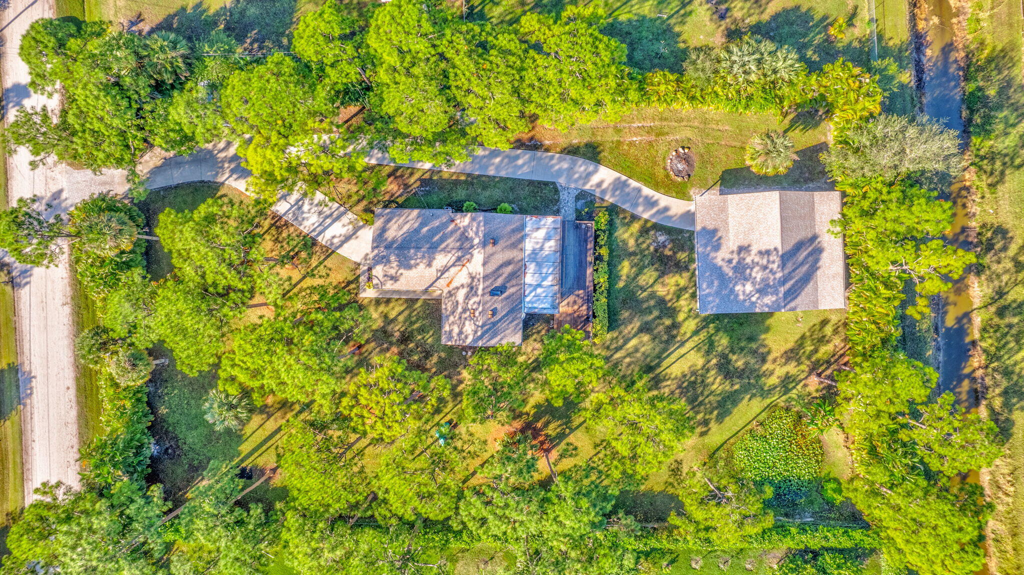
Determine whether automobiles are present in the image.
No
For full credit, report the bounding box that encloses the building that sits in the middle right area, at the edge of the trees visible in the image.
[691,190,847,314]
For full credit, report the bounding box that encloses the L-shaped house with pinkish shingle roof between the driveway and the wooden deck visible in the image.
[362,208,563,346]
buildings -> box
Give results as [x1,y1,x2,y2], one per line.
[691,190,847,314]
[362,208,563,346]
